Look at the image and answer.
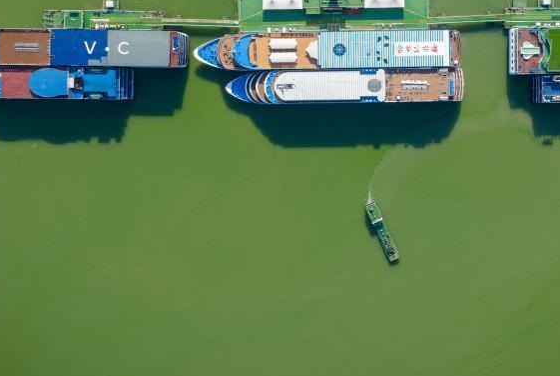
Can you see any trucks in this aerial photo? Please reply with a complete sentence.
No, the frame has no truck in it.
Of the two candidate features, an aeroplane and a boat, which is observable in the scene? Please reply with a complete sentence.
Looking from above, you can make out a boat.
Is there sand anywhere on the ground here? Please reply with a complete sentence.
No, the scene doesn't show any sand.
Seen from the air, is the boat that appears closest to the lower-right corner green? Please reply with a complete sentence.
Yes, green is the color of the boat that appears closest to the lower-right corner.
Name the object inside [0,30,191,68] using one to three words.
ship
